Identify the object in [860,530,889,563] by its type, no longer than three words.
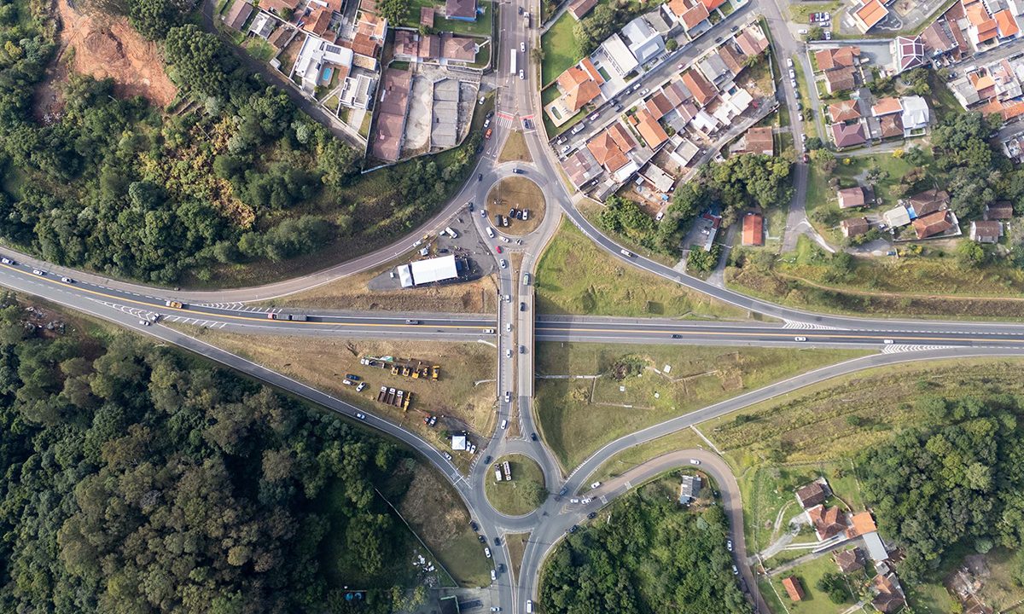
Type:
barn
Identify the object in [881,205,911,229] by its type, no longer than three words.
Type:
building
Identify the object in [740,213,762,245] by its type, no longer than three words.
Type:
house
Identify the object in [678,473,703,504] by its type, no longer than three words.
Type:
shed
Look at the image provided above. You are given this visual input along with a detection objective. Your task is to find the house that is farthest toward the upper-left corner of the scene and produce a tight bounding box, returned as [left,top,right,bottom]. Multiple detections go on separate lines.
[223,0,255,32]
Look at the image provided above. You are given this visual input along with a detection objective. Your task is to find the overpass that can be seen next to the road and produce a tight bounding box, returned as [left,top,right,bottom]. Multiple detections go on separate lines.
[497,286,535,398]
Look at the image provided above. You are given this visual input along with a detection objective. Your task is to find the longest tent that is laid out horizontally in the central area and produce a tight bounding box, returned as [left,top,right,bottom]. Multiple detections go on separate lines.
[410,256,458,283]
